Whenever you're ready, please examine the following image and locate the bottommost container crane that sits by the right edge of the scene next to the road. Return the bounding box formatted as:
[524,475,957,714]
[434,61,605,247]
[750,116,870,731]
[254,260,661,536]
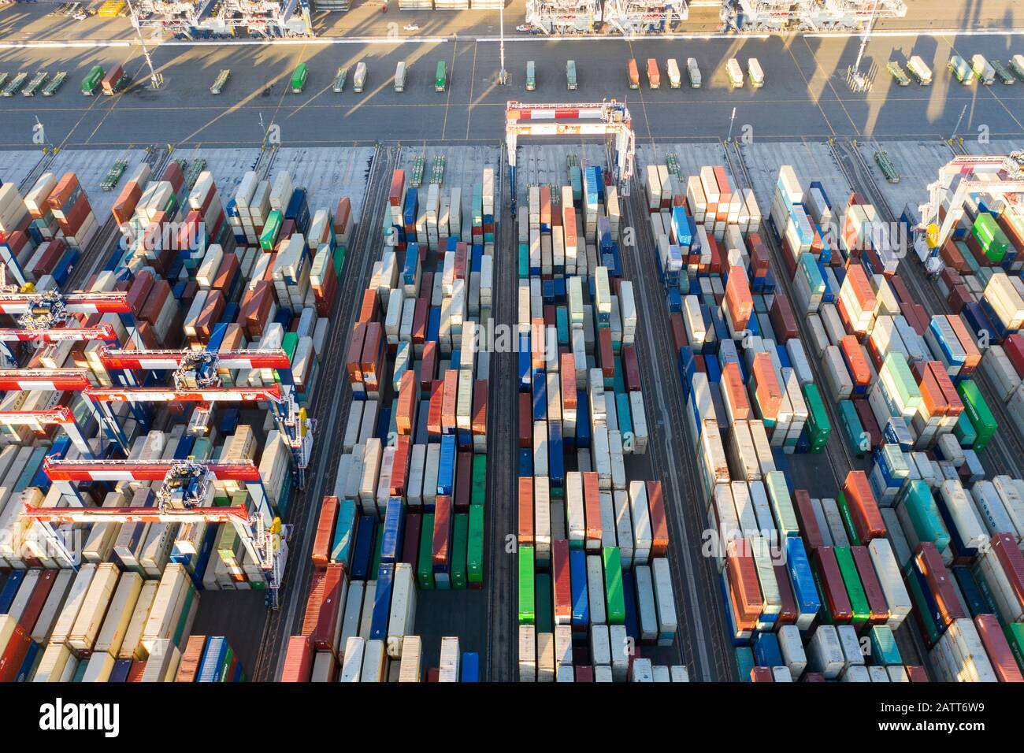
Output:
[895,146,1024,271]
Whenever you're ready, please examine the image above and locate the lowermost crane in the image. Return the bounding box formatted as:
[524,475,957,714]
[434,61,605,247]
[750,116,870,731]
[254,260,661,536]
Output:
[31,451,302,618]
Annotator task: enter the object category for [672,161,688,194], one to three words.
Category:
vehicle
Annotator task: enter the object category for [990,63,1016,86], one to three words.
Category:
vehicle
